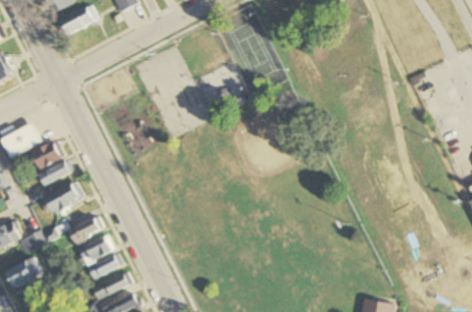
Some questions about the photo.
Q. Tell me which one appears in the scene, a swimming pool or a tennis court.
tennis court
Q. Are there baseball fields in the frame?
Yes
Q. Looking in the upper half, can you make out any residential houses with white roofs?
Yes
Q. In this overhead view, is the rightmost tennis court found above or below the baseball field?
above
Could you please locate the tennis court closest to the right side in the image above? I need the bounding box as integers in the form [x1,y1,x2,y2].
[218,4,296,104]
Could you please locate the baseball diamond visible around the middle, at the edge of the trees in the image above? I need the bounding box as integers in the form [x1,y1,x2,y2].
[231,118,304,180]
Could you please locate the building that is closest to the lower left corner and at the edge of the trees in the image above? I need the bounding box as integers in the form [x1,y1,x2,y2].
[6,255,42,288]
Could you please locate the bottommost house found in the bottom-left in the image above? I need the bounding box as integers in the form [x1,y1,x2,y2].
[104,292,142,312]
